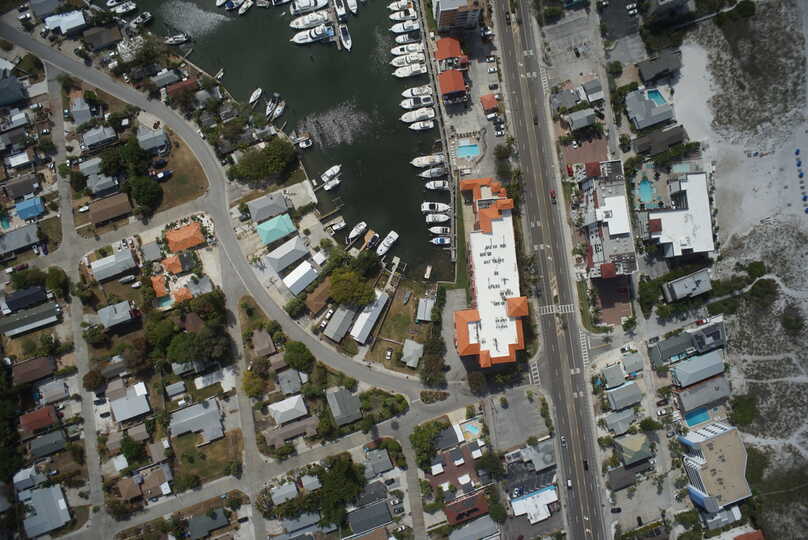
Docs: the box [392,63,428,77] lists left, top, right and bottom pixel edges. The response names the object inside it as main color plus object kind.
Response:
white boat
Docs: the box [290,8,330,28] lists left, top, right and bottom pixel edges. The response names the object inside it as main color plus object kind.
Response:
white boat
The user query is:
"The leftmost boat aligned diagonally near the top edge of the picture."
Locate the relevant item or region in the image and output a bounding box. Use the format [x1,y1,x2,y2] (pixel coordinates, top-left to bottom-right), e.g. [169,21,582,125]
[128,11,155,31]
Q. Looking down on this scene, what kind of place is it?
residential area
